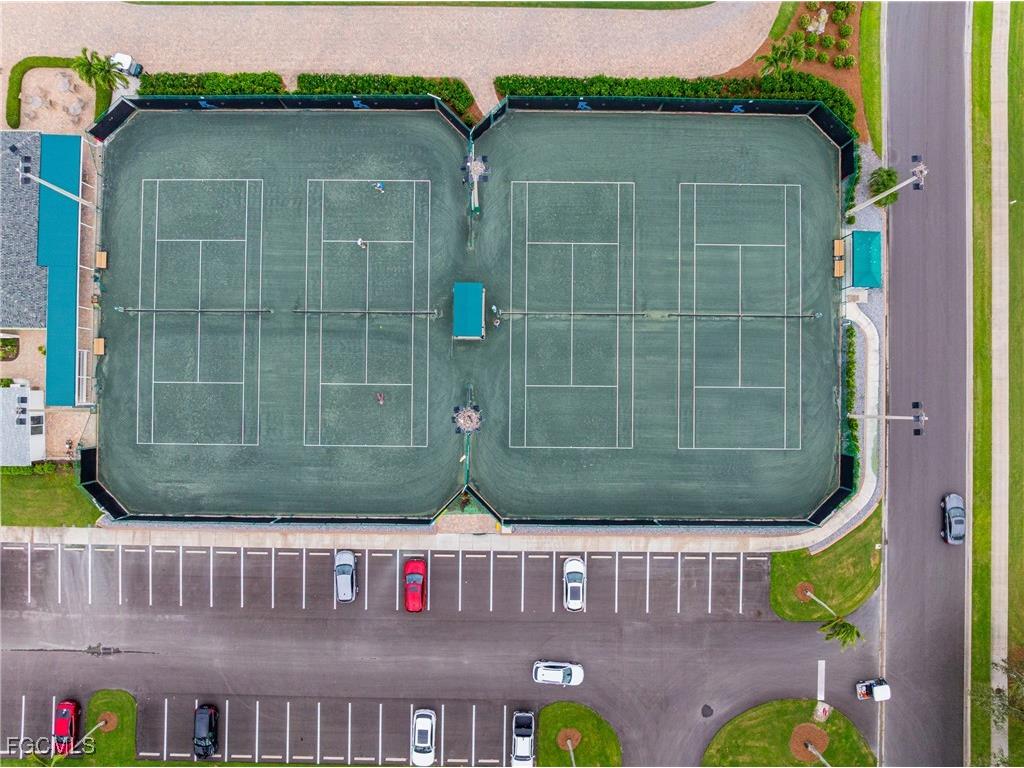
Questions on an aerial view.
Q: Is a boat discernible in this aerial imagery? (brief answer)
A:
No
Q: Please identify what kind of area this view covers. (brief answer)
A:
sports ground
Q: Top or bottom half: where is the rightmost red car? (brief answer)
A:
bottom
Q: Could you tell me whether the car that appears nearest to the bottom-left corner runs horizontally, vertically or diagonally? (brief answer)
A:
vertically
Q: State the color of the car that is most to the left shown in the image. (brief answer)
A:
red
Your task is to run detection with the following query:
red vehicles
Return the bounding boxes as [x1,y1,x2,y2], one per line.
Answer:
[401,557,428,612]
[54,697,83,752]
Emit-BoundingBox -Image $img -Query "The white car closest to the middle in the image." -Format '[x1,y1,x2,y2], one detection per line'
[561,556,586,611]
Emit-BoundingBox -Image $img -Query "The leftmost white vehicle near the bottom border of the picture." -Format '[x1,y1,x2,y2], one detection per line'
[410,707,437,766]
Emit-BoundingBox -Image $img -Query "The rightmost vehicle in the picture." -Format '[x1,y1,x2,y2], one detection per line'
[938,493,968,545]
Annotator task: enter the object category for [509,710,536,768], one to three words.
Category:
truck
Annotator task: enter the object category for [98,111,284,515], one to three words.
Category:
tennis court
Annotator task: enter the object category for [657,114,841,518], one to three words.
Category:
tennis court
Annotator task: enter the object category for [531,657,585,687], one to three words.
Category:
car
